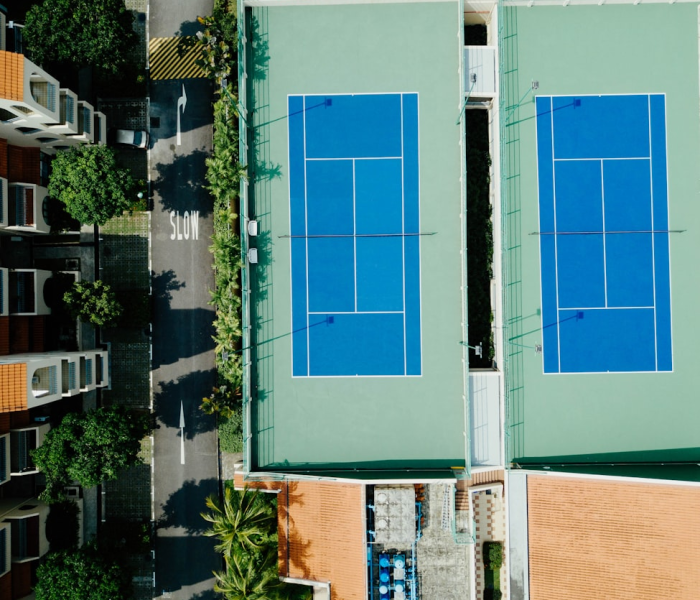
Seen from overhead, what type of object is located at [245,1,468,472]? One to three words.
tennis court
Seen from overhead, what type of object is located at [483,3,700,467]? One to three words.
tennis court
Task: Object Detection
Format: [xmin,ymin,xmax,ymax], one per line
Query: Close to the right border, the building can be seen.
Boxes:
[499,463,700,600]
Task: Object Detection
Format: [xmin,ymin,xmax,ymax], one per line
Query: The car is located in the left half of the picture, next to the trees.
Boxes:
[107,127,152,151]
